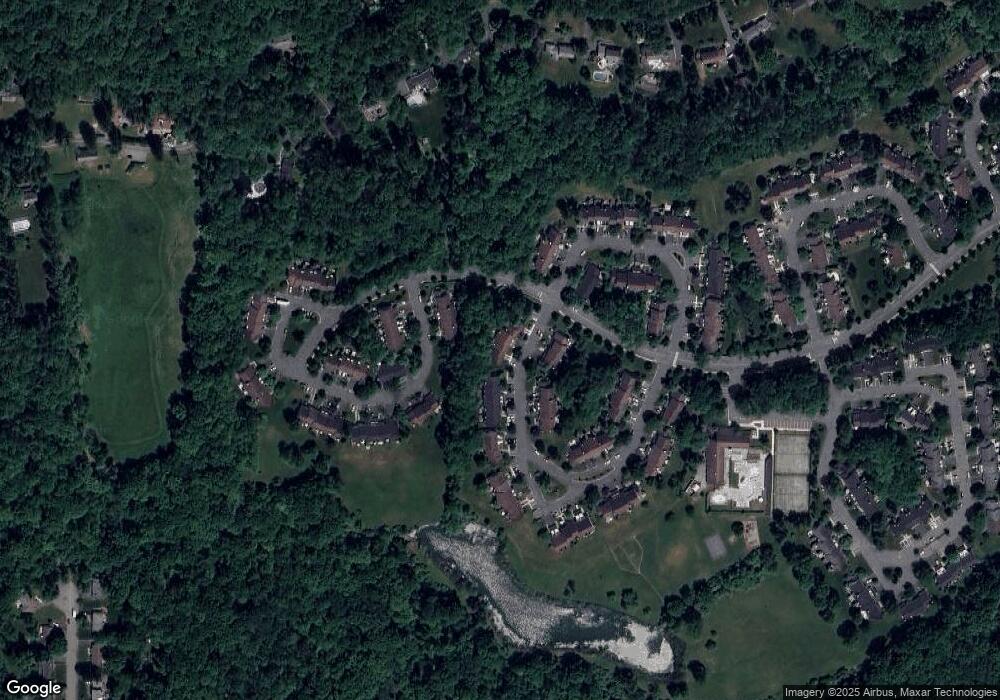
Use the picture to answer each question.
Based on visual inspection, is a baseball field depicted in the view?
No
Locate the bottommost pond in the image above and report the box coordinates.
[421,523,674,673]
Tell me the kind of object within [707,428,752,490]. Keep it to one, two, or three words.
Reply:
building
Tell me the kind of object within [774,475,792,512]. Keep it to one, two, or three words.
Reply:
tennis court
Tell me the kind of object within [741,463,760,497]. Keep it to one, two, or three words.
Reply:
swimming pool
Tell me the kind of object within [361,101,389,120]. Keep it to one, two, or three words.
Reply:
house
